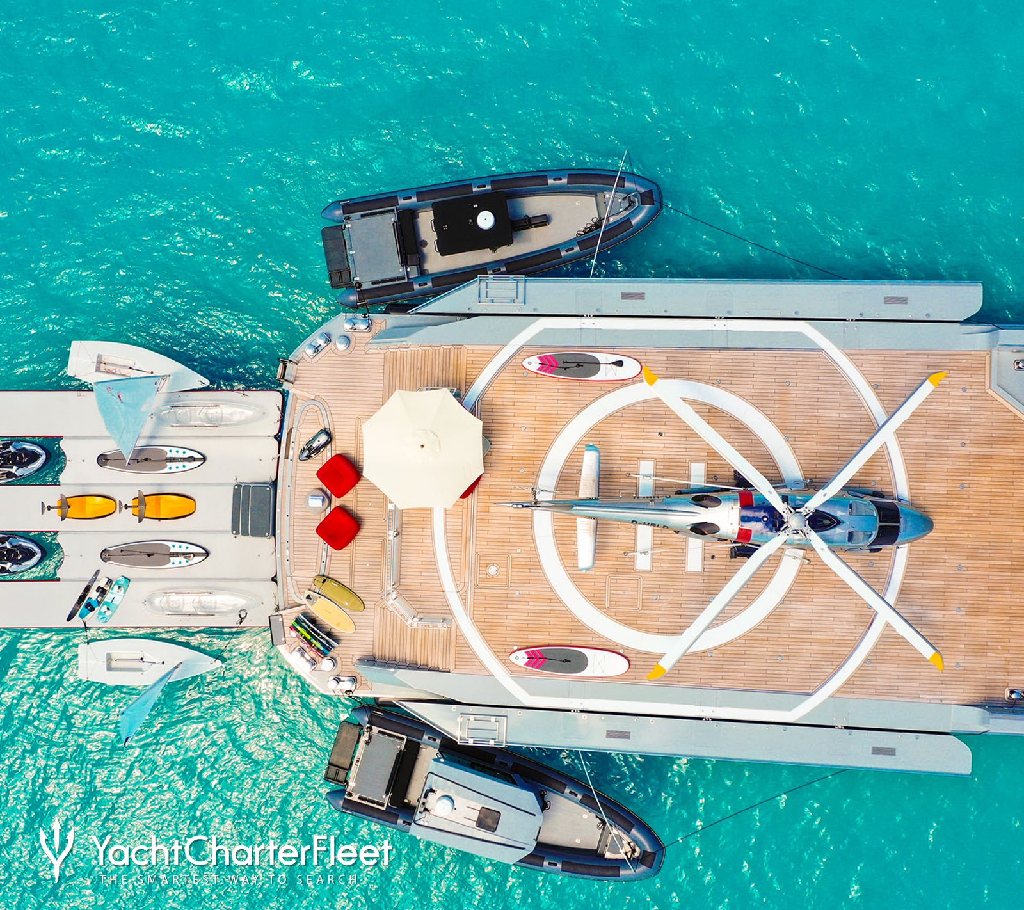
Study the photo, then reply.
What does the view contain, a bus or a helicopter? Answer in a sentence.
Of the two, only a helicopter appears.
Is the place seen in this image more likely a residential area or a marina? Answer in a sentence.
This looks like a marina.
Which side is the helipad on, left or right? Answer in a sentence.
You can find the helipad on the right side of the picture.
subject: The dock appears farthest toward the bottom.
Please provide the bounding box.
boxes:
[0,579,281,628]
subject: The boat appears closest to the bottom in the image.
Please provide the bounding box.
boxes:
[325,707,665,876]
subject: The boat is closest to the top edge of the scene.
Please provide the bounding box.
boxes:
[318,169,663,305]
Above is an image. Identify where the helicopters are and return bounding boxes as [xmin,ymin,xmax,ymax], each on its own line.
[508,359,952,677]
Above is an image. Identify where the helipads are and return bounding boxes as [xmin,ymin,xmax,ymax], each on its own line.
[403,318,1024,721]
